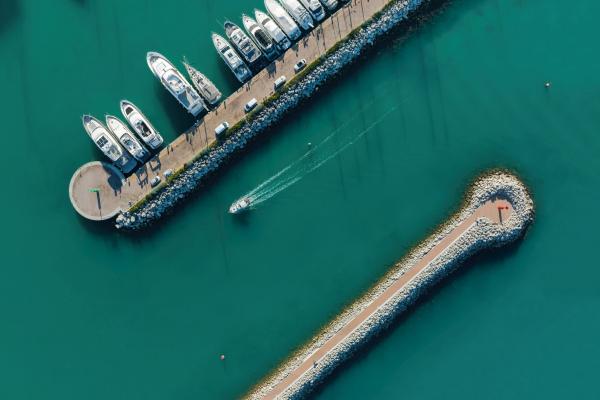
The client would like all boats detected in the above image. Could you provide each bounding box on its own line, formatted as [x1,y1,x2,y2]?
[243,15,280,64]
[225,21,263,64]
[81,114,133,170]
[180,57,222,106]
[230,198,251,212]
[254,9,293,52]
[212,34,250,86]
[119,101,166,152]
[264,0,304,44]
[146,52,210,121]
[104,114,150,168]
[295,0,327,25]
[318,0,341,14]
[278,0,317,35]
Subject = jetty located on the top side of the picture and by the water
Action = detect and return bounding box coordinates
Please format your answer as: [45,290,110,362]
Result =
[69,0,441,241]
